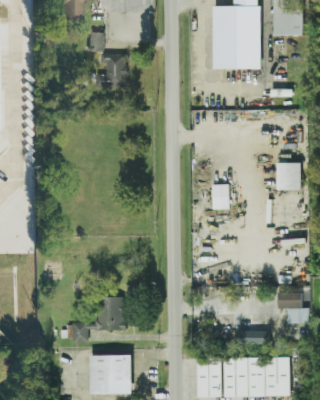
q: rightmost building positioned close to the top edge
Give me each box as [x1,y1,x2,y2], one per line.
[274,0,304,37]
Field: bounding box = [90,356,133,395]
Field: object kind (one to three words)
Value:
building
